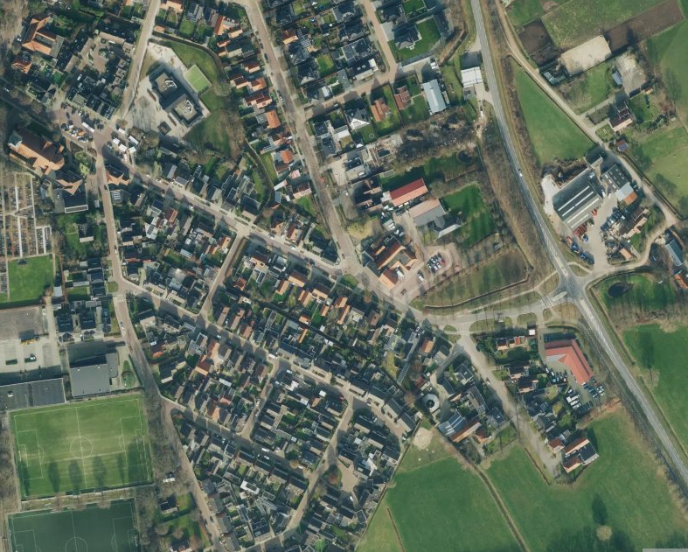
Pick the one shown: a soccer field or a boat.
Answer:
soccer field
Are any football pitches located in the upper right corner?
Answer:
No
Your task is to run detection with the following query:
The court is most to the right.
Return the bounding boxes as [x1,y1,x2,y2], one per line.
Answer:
[185,66,211,97]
